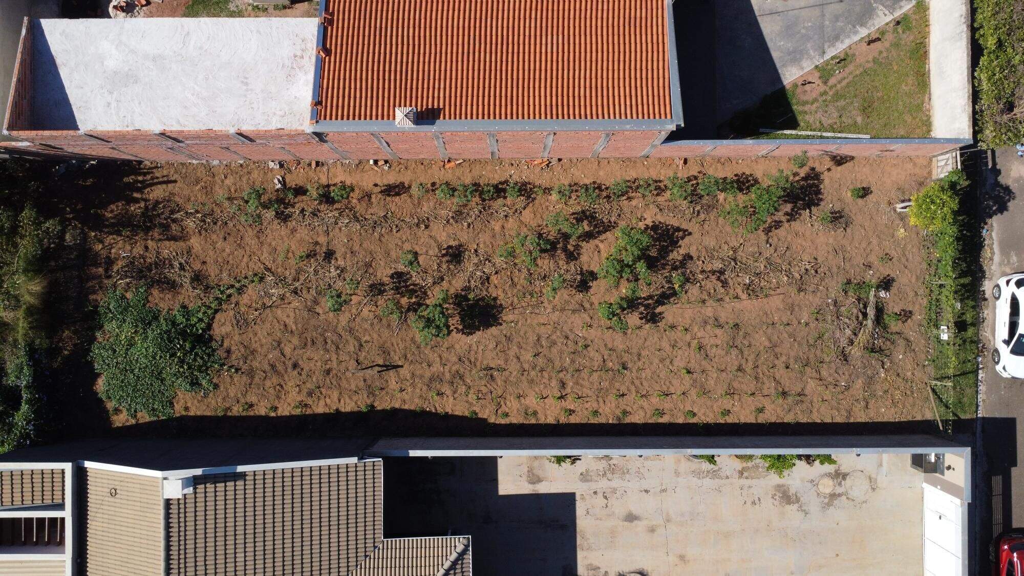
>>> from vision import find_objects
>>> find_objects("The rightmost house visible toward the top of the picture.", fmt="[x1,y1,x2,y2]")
[307,0,684,157]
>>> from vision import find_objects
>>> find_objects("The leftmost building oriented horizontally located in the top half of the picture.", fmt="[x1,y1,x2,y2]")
[0,14,342,157]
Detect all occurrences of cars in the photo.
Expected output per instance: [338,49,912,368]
[991,530,1024,576]
[987,273,1024,379]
